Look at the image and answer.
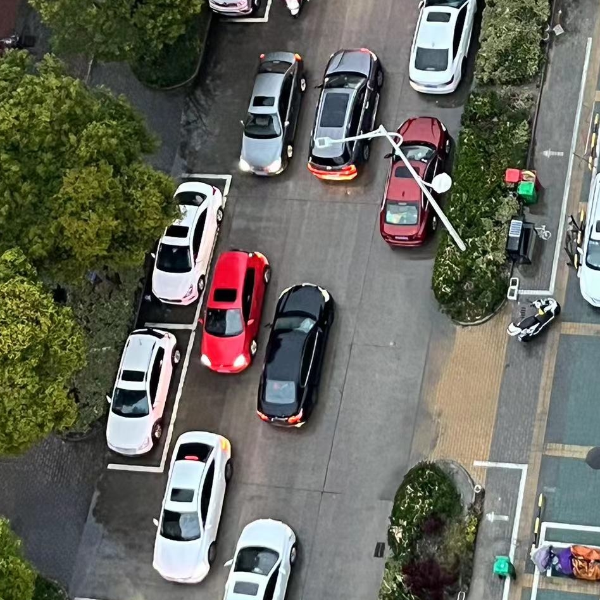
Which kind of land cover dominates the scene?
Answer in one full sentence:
The scene is dominated by paved ground.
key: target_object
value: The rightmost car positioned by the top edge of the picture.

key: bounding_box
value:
[411,0,483,95]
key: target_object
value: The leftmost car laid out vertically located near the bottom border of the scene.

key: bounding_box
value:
[151,433,235,584]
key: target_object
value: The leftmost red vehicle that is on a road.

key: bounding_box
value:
[199,251,275,377]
